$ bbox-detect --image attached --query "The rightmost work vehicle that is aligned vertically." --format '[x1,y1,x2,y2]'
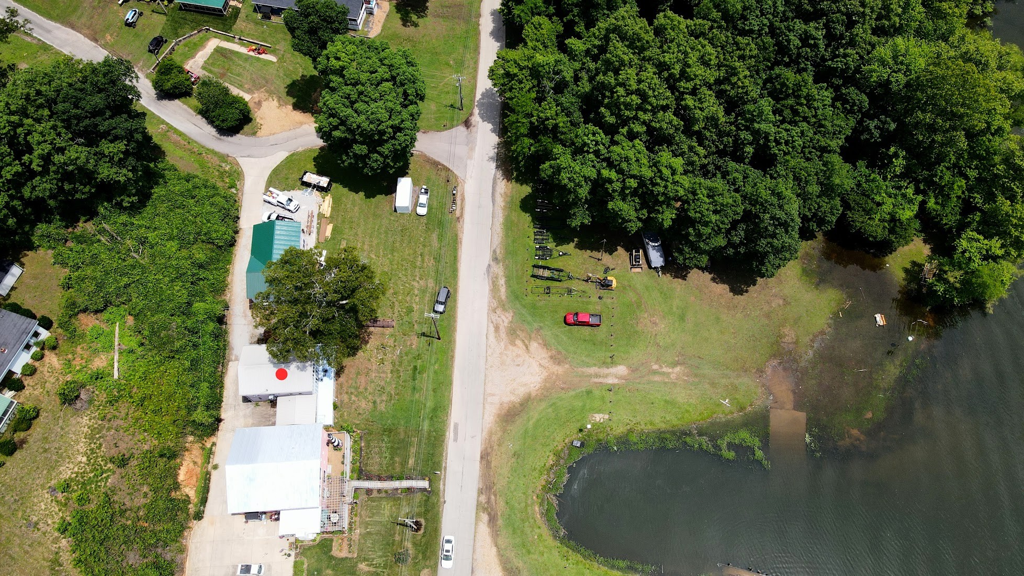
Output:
[631,247,644,272]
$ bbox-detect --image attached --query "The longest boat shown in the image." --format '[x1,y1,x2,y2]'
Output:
[643,228,668,278]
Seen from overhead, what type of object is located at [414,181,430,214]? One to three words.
vehicle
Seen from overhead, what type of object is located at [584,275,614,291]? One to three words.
work vehicle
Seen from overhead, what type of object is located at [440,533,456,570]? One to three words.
car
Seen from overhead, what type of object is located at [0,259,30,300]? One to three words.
shed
